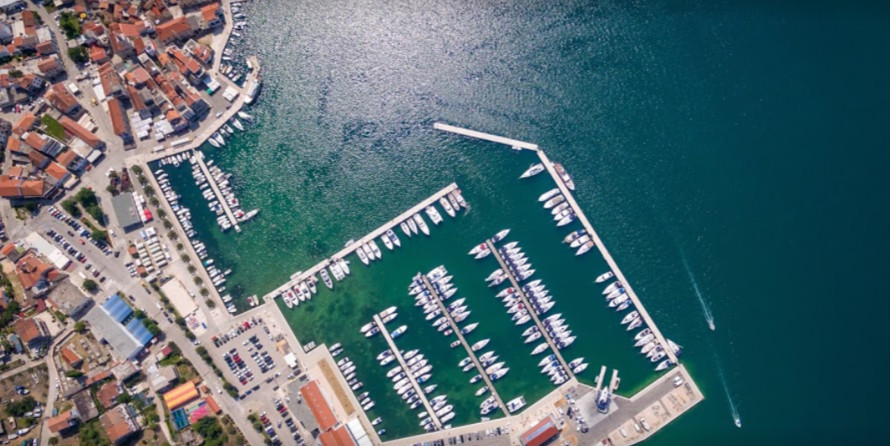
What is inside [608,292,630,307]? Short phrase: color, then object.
white boat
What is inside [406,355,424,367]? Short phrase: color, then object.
white boat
